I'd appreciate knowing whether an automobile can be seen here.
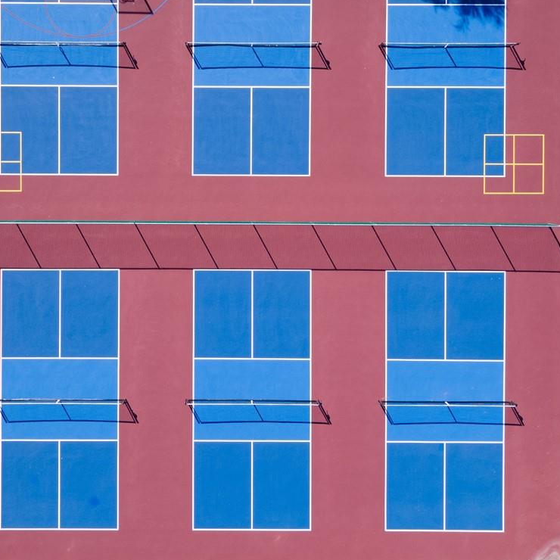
No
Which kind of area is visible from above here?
sports ground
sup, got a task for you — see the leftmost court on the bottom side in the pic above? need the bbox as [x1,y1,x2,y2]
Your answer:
[0,269,119,530]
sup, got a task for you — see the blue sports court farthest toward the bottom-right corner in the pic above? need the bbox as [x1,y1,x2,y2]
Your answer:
[385,271,506,533]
